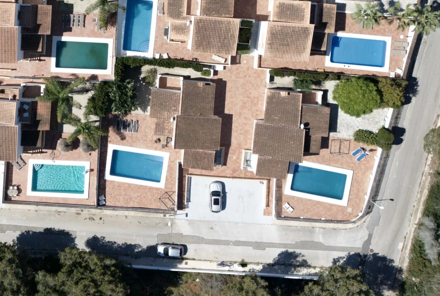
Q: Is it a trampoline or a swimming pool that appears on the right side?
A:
swimming pool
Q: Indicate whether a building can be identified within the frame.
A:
Yes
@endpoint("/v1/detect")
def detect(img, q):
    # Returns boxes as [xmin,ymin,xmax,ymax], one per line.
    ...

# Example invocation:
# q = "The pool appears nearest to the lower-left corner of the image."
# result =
[27,159,89,199]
